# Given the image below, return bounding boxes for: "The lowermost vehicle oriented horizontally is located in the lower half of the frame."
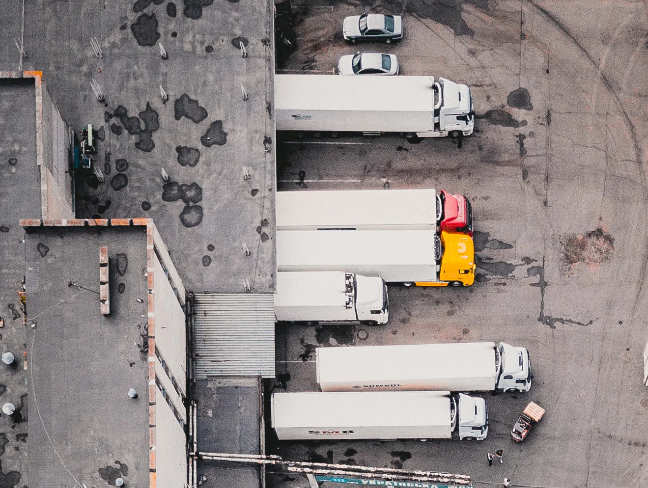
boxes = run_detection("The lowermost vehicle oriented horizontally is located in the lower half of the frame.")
[270,391,490,444]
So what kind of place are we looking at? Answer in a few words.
industrial area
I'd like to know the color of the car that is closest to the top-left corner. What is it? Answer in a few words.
black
